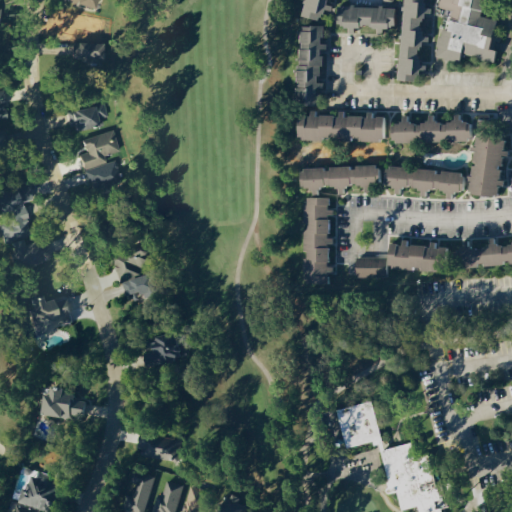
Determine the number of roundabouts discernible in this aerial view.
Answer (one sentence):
The picture shows no roundabouts.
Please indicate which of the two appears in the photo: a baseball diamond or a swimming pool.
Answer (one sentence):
The image shows a swimming pool.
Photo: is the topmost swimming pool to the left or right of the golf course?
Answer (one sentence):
The topmost swimming pool can be seen on the right of the golf course.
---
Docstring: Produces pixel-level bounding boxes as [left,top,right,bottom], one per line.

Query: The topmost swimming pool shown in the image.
[424,150,472,170]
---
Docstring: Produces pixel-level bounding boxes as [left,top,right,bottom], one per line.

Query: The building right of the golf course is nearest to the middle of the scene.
[302,197,334,288]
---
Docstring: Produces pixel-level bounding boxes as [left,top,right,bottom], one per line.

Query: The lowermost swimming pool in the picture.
[12,468,38,501]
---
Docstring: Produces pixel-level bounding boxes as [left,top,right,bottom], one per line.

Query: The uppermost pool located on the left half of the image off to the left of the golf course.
[40,330,70,352]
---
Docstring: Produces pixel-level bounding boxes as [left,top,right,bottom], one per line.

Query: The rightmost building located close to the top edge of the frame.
[436,0,498,62]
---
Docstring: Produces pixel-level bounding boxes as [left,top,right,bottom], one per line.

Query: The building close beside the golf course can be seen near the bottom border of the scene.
[338,402,443,512]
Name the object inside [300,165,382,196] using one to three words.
building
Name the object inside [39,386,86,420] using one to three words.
house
